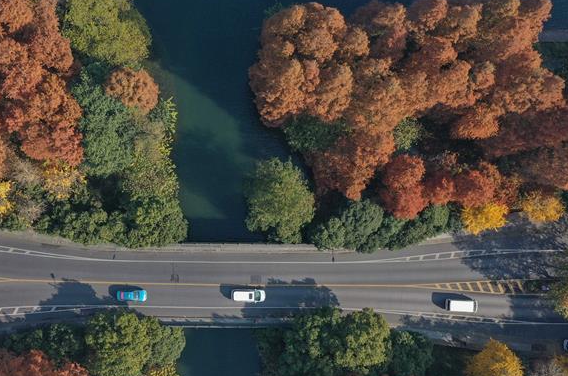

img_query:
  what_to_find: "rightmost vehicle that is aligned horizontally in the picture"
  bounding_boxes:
[445,299,479,313]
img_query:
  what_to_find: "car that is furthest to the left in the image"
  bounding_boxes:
[116,289,147,302]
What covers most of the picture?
trees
